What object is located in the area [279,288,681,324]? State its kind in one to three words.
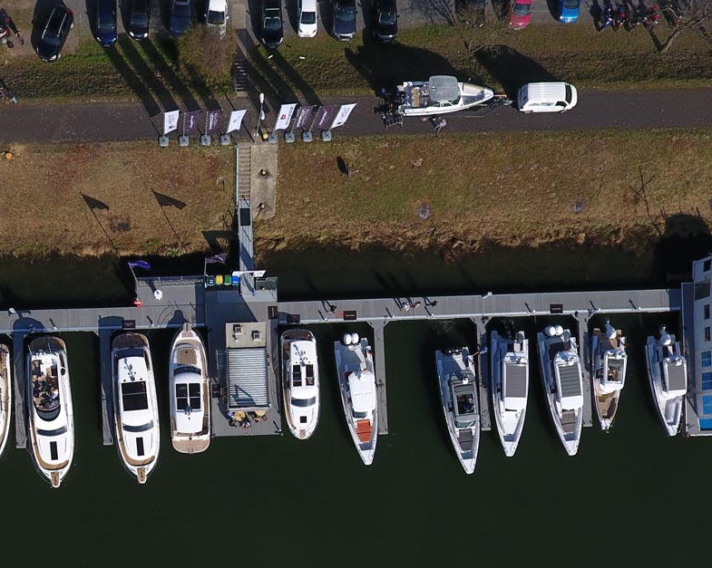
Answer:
pier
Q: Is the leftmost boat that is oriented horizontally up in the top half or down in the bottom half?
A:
top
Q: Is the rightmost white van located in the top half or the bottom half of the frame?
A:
top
